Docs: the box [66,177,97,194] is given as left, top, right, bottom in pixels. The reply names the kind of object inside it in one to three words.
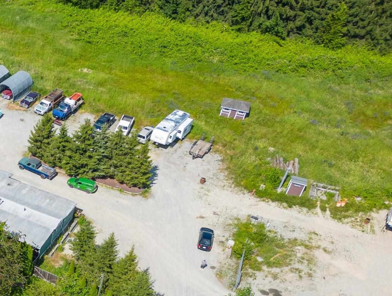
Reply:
vehicle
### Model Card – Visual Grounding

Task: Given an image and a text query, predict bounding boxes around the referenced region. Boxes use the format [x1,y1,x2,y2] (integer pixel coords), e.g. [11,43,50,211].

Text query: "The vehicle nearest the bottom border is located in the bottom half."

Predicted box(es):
[196,226,215,252]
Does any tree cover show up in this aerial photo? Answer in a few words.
Yes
